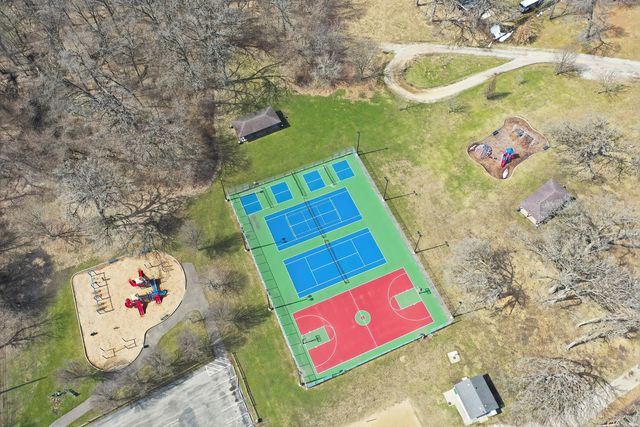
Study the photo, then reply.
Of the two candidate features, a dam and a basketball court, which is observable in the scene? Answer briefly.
basketball court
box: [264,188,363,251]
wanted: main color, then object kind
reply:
blue tennis court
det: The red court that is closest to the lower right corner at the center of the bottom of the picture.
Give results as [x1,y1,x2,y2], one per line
[292,268,434,373]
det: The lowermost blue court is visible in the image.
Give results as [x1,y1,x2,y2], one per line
[282,228,387,298]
